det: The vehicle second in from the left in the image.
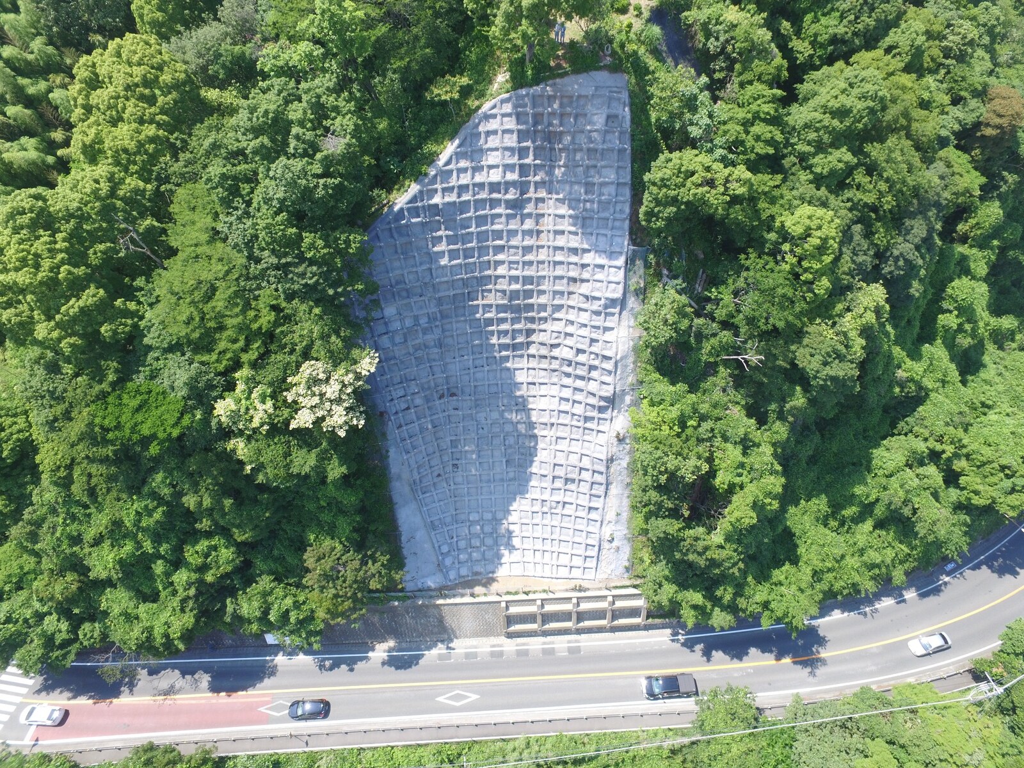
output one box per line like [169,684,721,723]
[288,697,331,721]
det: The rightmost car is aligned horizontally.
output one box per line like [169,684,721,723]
[906,631,954,657]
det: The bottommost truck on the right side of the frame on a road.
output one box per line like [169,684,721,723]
[641,674,697,698]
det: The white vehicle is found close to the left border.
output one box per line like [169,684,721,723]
[18,703,70,727]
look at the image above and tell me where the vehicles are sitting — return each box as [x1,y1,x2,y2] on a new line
[906,631,954,657]
[288,697,331,721]
[18,703,70,727]
[641,674,697,698]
